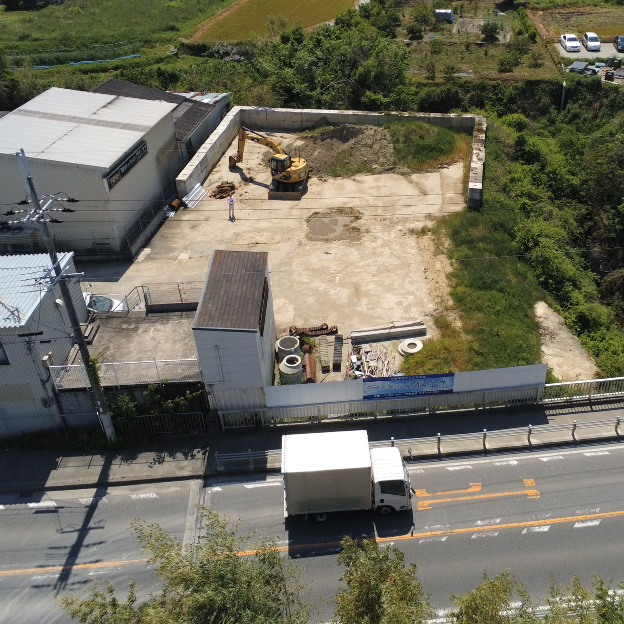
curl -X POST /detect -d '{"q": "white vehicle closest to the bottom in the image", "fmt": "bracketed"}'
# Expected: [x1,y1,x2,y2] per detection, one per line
[278,430,418,524]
